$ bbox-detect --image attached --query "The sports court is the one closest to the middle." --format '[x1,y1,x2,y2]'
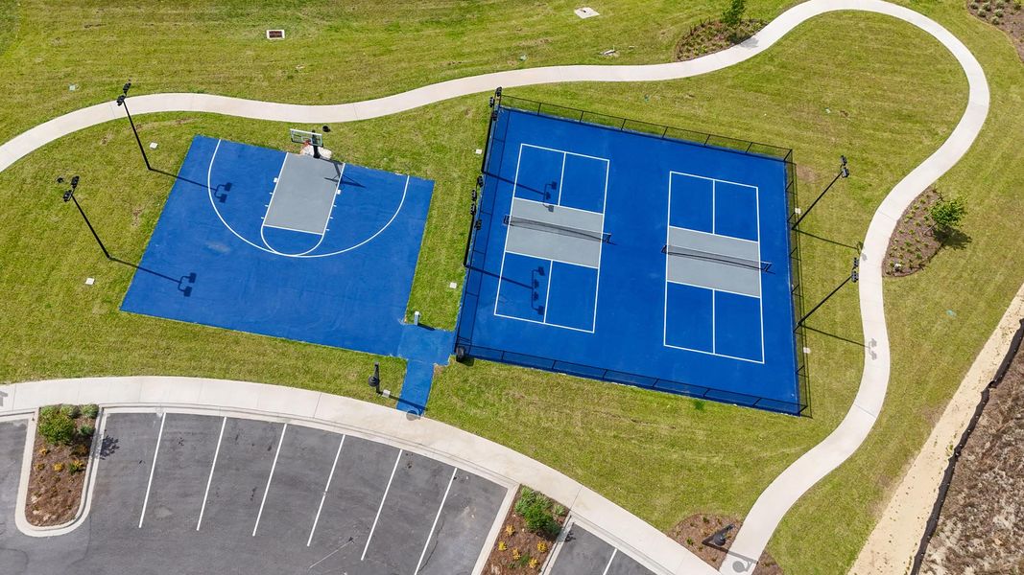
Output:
[452,104,642,387]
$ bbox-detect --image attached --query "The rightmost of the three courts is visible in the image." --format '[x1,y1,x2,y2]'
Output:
[626,131,803,419]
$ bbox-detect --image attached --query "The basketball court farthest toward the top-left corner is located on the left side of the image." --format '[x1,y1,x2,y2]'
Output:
[119,137,434,357]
